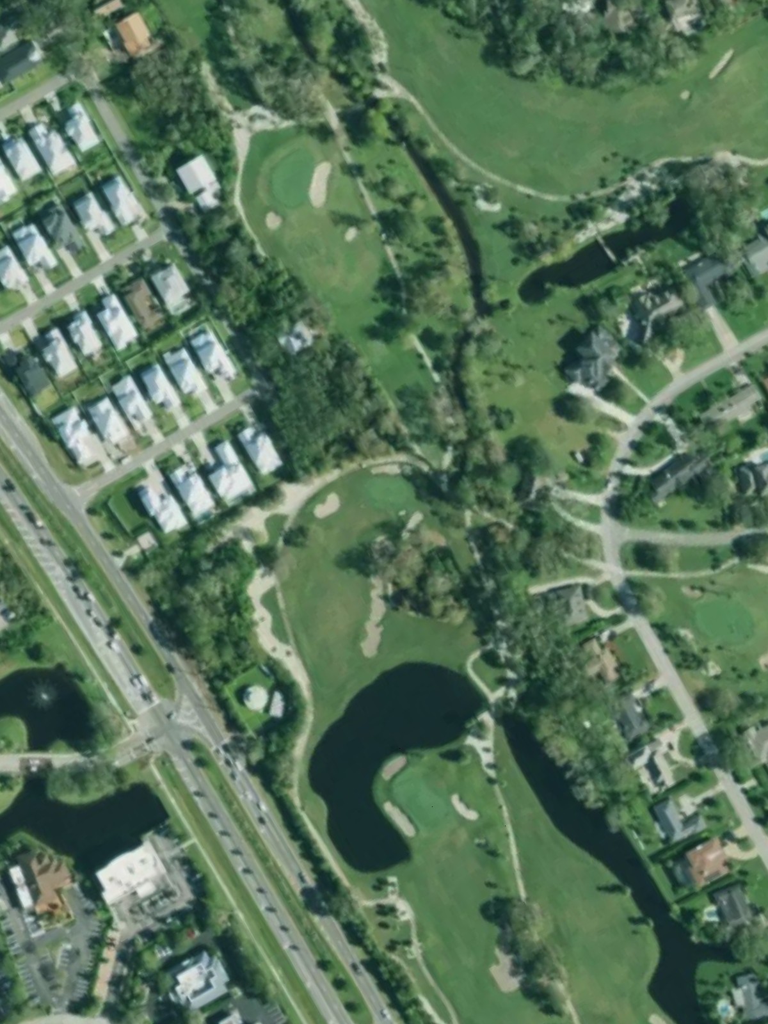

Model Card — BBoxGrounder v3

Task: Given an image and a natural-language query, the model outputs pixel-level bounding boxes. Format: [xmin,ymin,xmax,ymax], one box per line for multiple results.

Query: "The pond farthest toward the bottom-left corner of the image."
[0,774,168,884]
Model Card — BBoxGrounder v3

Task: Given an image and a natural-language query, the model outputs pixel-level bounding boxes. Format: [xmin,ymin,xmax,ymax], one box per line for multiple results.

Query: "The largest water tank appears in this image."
[243,685,269,710]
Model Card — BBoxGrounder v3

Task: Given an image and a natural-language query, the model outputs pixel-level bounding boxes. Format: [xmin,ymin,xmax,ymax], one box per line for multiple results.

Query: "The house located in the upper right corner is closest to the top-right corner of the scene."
[668,0,699,33]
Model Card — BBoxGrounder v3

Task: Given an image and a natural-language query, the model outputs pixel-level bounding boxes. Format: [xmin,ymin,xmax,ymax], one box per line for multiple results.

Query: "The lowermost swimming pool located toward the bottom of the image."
[718,998,734,1023]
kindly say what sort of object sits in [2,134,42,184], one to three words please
house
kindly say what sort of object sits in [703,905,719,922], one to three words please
swimming pool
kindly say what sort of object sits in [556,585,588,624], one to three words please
house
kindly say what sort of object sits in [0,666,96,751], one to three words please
pond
